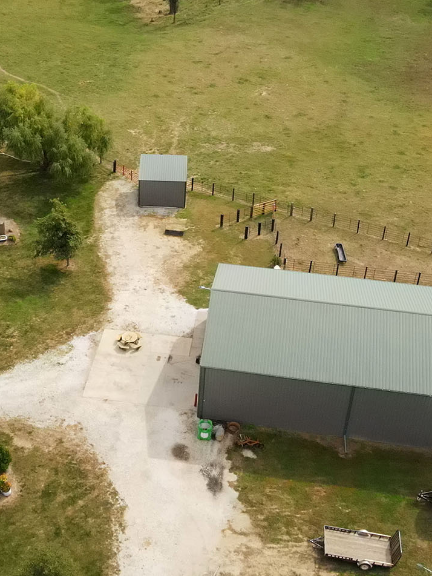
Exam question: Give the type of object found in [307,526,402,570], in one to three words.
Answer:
trailer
